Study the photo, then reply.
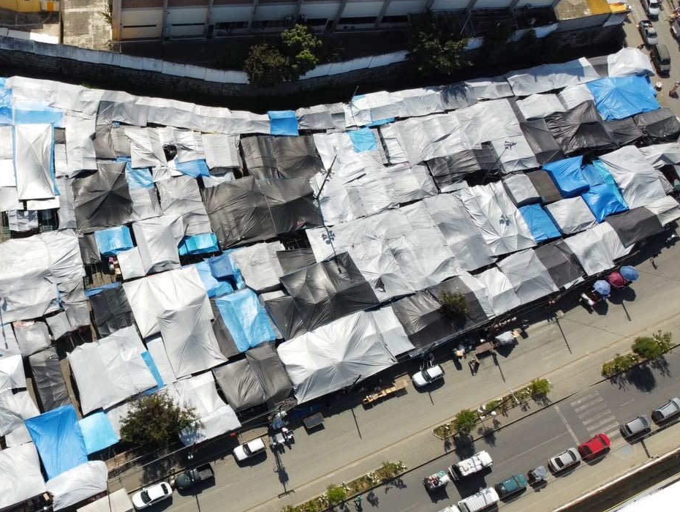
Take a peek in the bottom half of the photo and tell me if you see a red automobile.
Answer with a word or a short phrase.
Yes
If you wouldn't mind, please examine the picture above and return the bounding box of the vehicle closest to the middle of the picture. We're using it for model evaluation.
[410,363,446,389]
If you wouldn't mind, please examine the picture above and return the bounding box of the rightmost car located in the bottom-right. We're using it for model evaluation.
[646,398,680,424]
